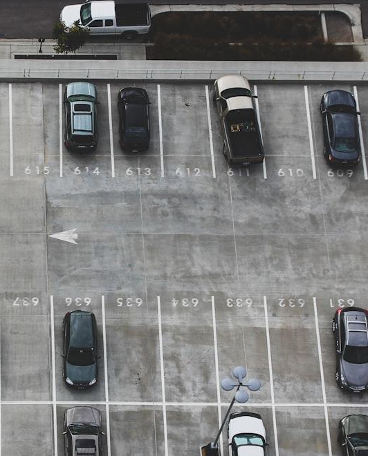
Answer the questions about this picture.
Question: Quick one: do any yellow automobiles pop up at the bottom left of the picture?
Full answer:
No, no yellow automobile appears at the bottom left of the picture.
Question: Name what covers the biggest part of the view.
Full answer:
Most of the picture is covered by paved ground.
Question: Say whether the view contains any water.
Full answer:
No, the picture contains no water.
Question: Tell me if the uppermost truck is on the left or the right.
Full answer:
It is on the left.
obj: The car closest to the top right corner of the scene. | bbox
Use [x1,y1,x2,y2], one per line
[314,90,359,167]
